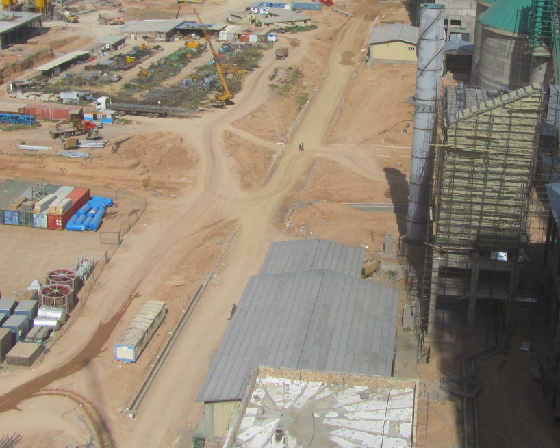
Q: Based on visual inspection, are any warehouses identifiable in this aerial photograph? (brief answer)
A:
Yes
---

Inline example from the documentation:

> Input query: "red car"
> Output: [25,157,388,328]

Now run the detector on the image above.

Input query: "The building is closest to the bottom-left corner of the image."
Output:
[115,303,159,359]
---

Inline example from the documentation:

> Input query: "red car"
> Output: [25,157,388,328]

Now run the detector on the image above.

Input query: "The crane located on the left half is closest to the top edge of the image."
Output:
[173,0,238,107]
